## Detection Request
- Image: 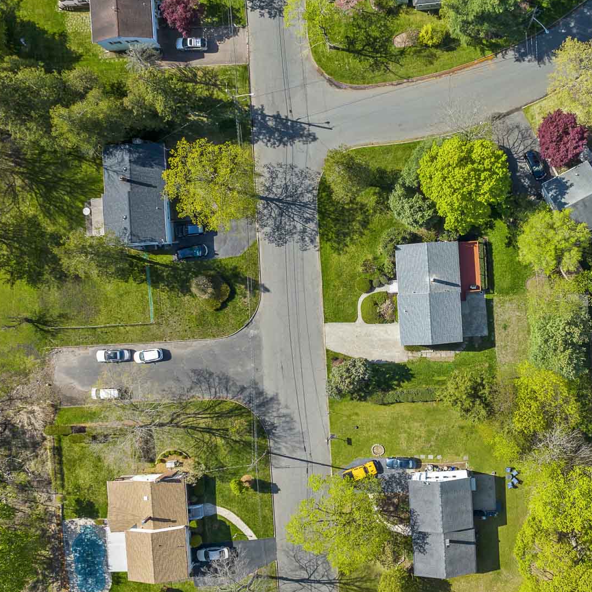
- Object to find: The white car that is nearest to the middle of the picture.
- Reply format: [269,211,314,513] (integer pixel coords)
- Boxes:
[133,347,166,363]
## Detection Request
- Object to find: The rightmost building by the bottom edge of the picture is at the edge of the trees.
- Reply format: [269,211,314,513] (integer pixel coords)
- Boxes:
[408,471,477,580]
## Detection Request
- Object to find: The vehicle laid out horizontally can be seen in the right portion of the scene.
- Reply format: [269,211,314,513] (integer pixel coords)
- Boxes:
[385,455,419,472]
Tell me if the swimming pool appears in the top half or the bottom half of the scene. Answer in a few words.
bottom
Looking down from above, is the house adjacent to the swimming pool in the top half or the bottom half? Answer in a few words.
bottom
